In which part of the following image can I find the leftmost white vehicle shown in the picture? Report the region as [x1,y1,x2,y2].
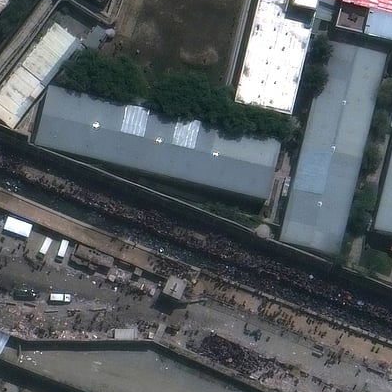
[34,236,53,261]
